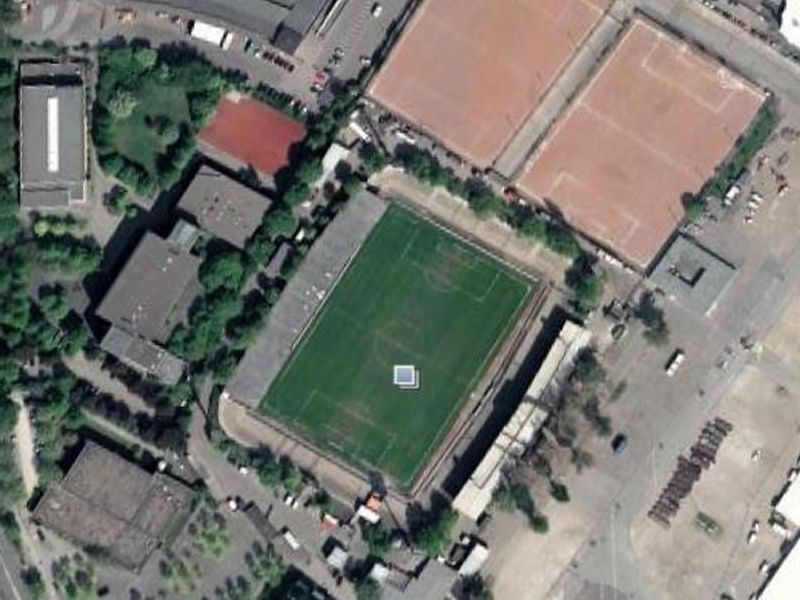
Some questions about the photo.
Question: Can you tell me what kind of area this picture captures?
sports ground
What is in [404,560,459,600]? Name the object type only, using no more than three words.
building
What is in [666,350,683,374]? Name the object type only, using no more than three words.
vehicle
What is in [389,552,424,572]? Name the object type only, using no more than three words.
house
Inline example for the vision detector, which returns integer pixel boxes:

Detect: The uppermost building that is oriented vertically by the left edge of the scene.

[20,62,89,209]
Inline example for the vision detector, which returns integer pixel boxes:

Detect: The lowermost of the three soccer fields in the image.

[259,203,539,494]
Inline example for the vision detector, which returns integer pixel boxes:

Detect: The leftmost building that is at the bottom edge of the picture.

[32,441,198,573]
